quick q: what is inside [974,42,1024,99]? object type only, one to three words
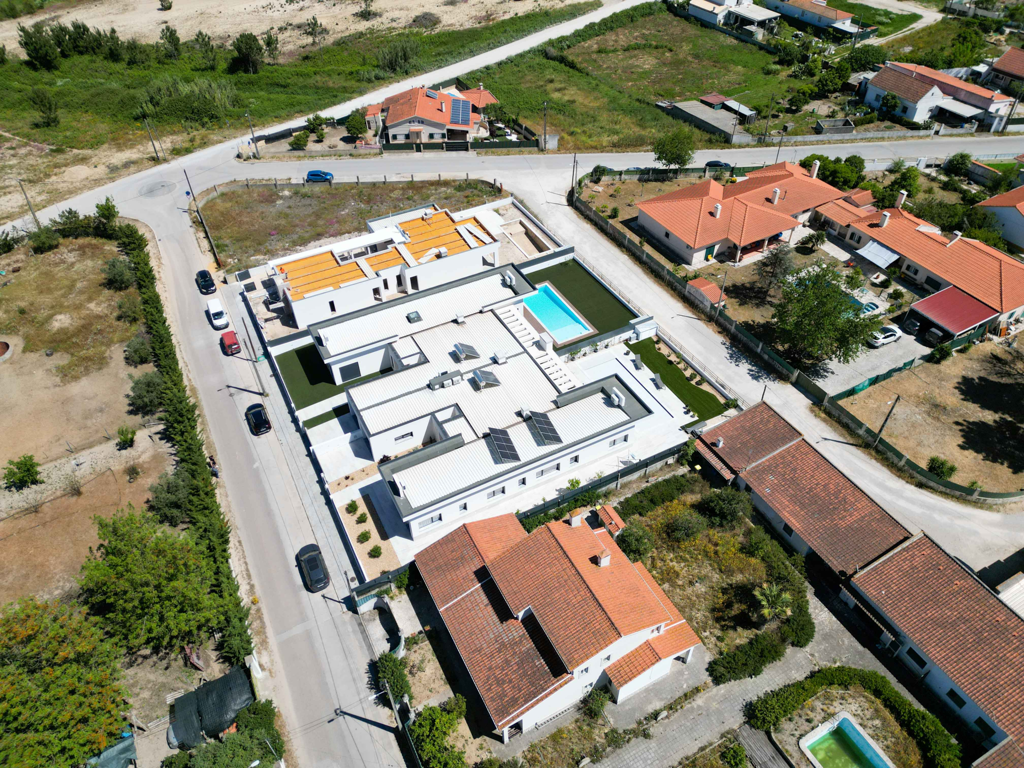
house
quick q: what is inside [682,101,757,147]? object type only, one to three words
shed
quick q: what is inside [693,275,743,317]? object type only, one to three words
shed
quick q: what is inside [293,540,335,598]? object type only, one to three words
car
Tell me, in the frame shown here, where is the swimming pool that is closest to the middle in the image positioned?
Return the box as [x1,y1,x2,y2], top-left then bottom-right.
[524,284,600,348]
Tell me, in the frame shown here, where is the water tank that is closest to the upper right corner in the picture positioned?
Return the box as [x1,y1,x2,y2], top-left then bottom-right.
[816,116,855,131]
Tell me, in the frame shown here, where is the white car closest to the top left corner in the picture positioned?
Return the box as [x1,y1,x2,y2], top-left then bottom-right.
[201,293,230,331]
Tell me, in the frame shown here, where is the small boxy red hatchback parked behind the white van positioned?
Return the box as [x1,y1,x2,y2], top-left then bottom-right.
[218,331,242,358]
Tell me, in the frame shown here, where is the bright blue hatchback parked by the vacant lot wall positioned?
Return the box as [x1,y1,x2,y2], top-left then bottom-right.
[305,168,336,184]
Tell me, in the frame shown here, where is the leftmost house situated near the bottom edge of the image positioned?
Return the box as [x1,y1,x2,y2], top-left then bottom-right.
[411,509,705,746]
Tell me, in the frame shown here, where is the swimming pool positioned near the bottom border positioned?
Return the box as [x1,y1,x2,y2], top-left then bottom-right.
[798,711,897,768]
